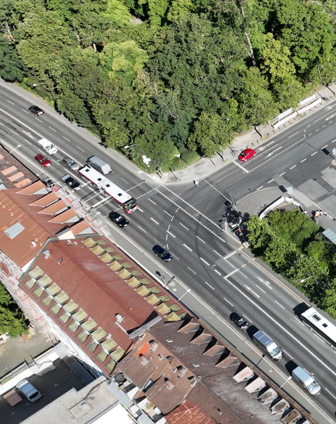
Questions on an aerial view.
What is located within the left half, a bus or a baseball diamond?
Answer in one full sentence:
Visible within the left half is a bus.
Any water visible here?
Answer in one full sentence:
No, water can't be seen anywhere here.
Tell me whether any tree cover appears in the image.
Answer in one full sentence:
Yes, the picture does contain tree cover.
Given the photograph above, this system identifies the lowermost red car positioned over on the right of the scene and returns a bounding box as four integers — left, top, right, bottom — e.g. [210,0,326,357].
[238,149,256,163]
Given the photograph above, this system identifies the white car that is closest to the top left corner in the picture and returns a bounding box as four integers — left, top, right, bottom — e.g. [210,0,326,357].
[40,136,56,150]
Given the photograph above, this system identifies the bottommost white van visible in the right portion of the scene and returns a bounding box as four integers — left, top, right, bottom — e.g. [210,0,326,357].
[291,362,321,394]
